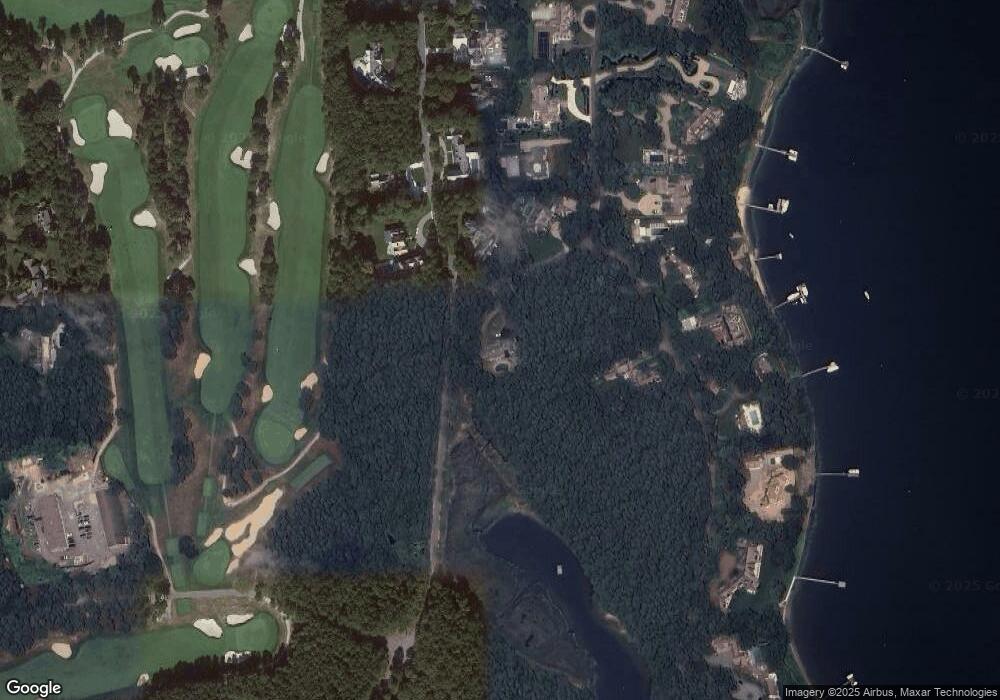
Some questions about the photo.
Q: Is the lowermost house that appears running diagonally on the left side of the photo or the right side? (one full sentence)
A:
It is on the right.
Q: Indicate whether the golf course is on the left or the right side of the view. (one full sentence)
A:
It is on the left.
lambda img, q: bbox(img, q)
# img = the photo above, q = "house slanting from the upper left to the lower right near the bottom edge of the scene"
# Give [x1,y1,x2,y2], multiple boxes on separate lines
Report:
[713,634,773,679]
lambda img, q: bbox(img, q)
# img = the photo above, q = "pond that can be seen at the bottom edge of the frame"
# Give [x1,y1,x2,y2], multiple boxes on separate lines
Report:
[482,515,650,700]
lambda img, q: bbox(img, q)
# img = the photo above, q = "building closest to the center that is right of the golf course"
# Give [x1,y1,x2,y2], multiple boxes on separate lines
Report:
[480,338,521,370]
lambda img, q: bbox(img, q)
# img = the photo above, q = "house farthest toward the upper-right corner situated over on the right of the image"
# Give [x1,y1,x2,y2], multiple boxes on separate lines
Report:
[728,72,752,100]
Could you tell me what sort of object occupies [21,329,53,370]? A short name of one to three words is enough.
house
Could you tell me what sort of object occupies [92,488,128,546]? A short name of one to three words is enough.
building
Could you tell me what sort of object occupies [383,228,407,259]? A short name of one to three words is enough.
house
